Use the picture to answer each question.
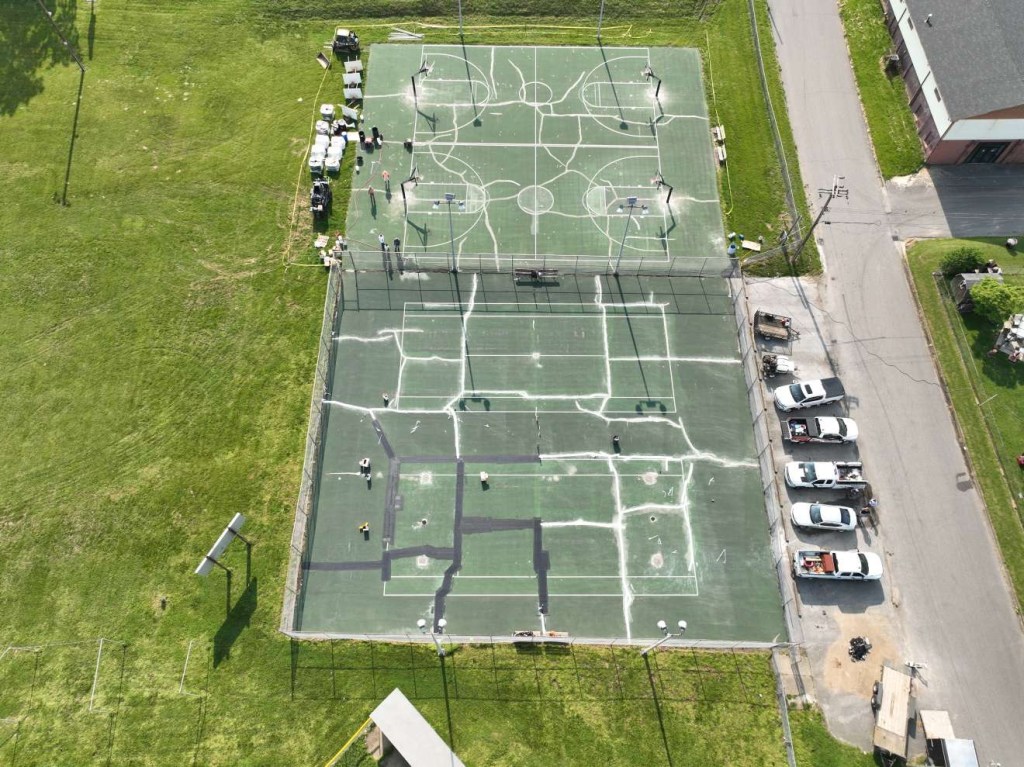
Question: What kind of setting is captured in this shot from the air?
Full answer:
It's a sports ground.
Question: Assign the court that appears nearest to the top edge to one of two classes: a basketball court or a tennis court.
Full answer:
I'd identify the court that appears nearest to the top edge as a basketball court.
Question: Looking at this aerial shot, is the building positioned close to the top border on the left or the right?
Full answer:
The building positioned close to the top border sits on the right side.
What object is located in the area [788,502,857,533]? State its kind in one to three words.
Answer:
car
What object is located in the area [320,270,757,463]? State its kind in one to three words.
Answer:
tennis court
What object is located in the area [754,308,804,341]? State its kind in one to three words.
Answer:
trailer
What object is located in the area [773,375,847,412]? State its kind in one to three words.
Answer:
truck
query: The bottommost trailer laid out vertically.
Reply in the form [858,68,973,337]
[871,666,916,767]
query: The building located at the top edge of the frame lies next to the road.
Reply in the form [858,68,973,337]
[879,0,1024,167]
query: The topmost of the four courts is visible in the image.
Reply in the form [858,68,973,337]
[358,43,715,148]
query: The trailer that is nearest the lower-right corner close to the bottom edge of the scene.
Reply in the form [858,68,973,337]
[921,707,982,767]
